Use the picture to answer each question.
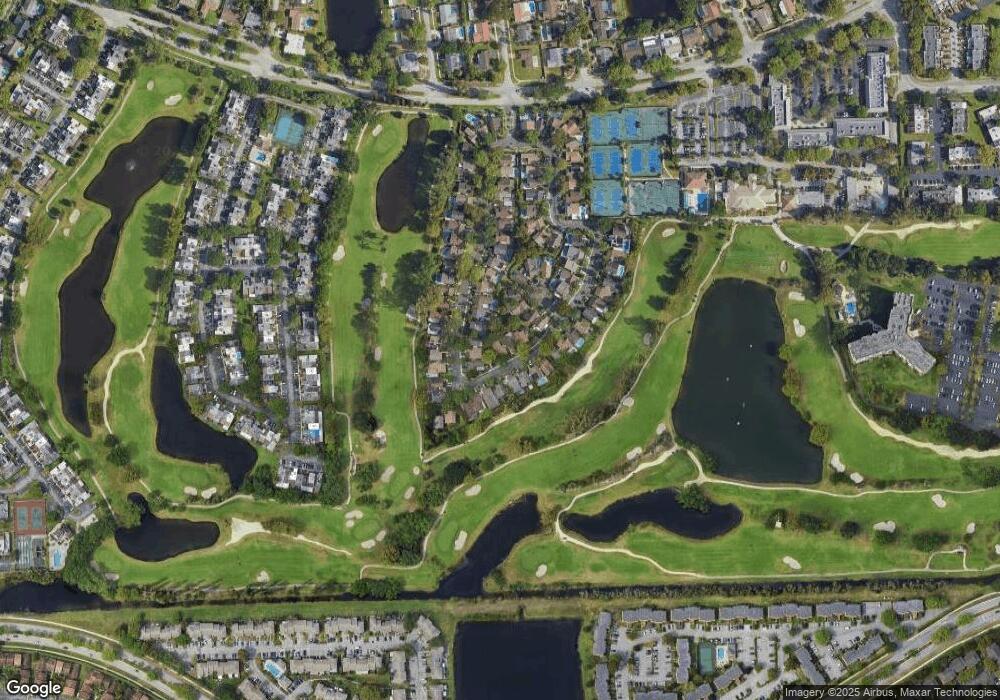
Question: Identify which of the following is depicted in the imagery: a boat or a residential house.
residential house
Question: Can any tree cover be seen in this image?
Yes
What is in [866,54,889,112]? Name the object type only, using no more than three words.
building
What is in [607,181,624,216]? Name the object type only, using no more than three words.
tennis court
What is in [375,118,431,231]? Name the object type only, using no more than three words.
pond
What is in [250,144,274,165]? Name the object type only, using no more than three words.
swimming pool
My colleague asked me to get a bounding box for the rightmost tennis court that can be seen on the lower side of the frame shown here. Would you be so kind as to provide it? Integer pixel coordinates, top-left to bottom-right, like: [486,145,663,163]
[698,643,714,674]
